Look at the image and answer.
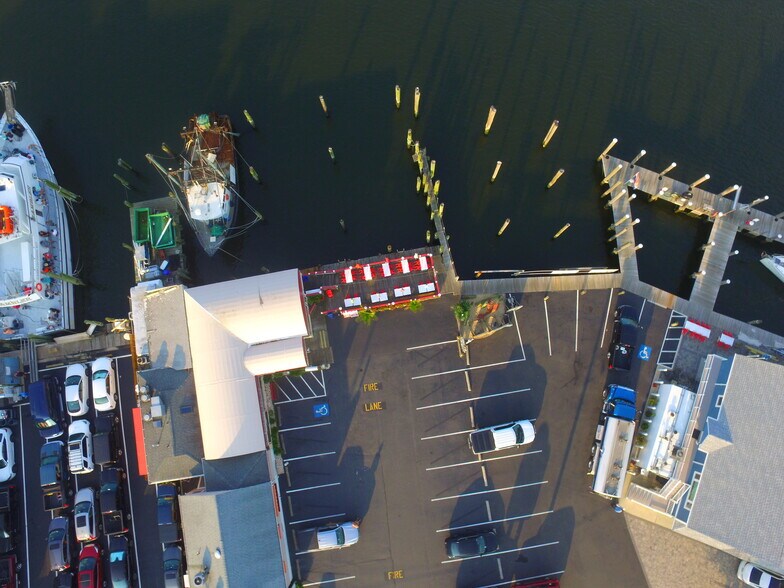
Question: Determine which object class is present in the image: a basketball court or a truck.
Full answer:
This aerial view contains a truck.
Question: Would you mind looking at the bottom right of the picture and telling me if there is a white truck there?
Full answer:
Yes, a white truck shows up at the bottom right of the picture.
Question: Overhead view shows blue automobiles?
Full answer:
Yes, looking at the shot, I can spot a blue automobile.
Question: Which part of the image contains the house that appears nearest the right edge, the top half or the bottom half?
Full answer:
You can find the house that appears nearest the right edge in the bottom half.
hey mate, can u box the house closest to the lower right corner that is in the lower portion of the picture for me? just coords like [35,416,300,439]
[625,355,784,562]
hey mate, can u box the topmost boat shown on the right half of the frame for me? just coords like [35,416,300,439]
[756,257,784,289]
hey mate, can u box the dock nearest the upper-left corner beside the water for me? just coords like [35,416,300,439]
[122,197,188,289]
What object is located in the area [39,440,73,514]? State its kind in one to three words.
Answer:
truck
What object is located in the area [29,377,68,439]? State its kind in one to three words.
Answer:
van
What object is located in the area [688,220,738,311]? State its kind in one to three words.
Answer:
pier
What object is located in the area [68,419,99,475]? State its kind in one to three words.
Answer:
car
